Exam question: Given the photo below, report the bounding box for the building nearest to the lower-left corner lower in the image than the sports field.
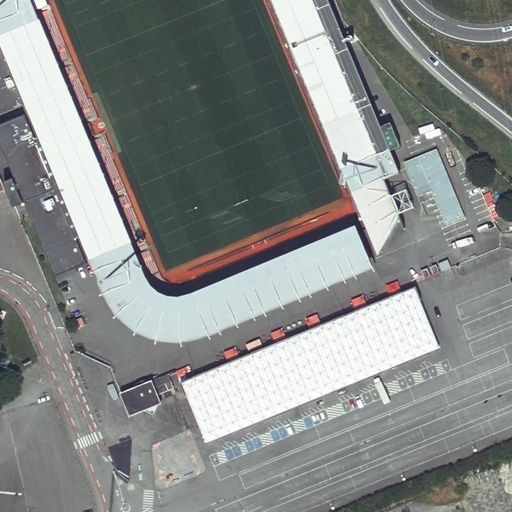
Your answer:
[108,438,132,484]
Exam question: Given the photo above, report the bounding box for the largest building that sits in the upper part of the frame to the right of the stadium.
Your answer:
[404,149,466,225]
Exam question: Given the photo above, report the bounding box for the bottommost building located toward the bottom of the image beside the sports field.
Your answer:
[181,286,440,446]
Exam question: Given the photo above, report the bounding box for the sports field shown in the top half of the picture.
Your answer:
[58,0,343,271]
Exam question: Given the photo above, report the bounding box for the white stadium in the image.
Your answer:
[0,0,400,348]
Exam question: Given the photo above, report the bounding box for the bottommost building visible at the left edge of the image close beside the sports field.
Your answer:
[0,114,84,274]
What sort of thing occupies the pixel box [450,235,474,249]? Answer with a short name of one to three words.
vehicle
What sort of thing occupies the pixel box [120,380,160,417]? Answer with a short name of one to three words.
building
